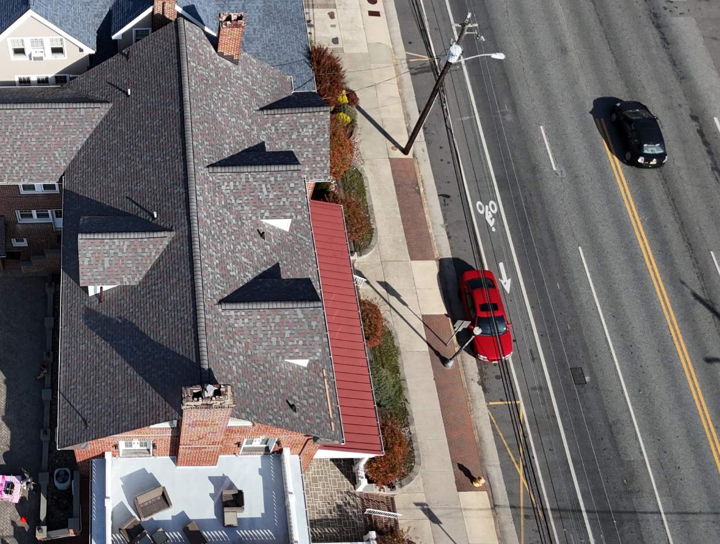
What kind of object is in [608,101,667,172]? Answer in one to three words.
car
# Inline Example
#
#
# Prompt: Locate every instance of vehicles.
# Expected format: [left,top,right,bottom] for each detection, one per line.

[608,101,667,172]
[456,271,512,363]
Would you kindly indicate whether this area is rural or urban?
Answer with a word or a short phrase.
urban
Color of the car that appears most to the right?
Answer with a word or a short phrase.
black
